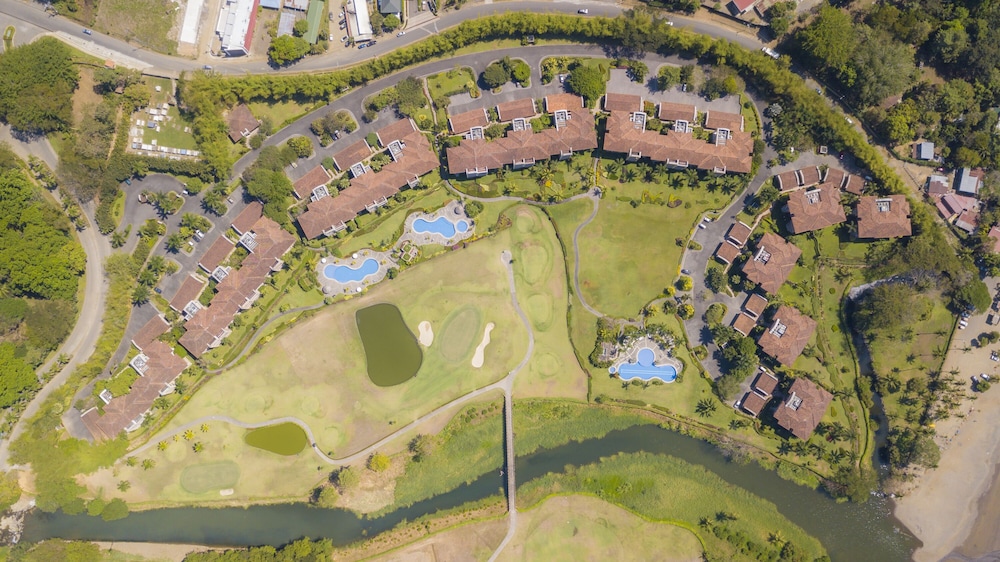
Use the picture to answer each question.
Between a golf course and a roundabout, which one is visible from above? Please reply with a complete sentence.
It is a golf course that can be seen here.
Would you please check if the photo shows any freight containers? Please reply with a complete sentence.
No, the frame has no freight container in it.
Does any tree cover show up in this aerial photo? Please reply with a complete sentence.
Yes, some tree cover is visible.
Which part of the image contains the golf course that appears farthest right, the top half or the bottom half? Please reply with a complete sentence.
You can find the golf course that appears farthest right in the bottom half.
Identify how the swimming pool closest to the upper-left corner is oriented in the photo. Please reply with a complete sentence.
From this overhead view, the swimming pool closest to the upper-left corner appears to run from side to side.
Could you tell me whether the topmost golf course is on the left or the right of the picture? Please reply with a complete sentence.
The topmost golf course appears in the left half of the scene.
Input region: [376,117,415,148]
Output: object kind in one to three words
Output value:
building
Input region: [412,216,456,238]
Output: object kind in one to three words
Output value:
swimming pool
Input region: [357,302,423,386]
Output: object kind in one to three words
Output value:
pond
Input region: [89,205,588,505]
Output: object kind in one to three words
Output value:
golf course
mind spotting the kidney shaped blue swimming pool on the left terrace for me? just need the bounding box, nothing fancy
[323,258,380,283]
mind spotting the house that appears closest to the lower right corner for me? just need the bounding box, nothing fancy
[772,380,833,439]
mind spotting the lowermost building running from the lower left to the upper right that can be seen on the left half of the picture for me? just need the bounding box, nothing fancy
[95,337,193,439]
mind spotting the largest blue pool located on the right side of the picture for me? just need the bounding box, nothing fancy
[617,348,677,382]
